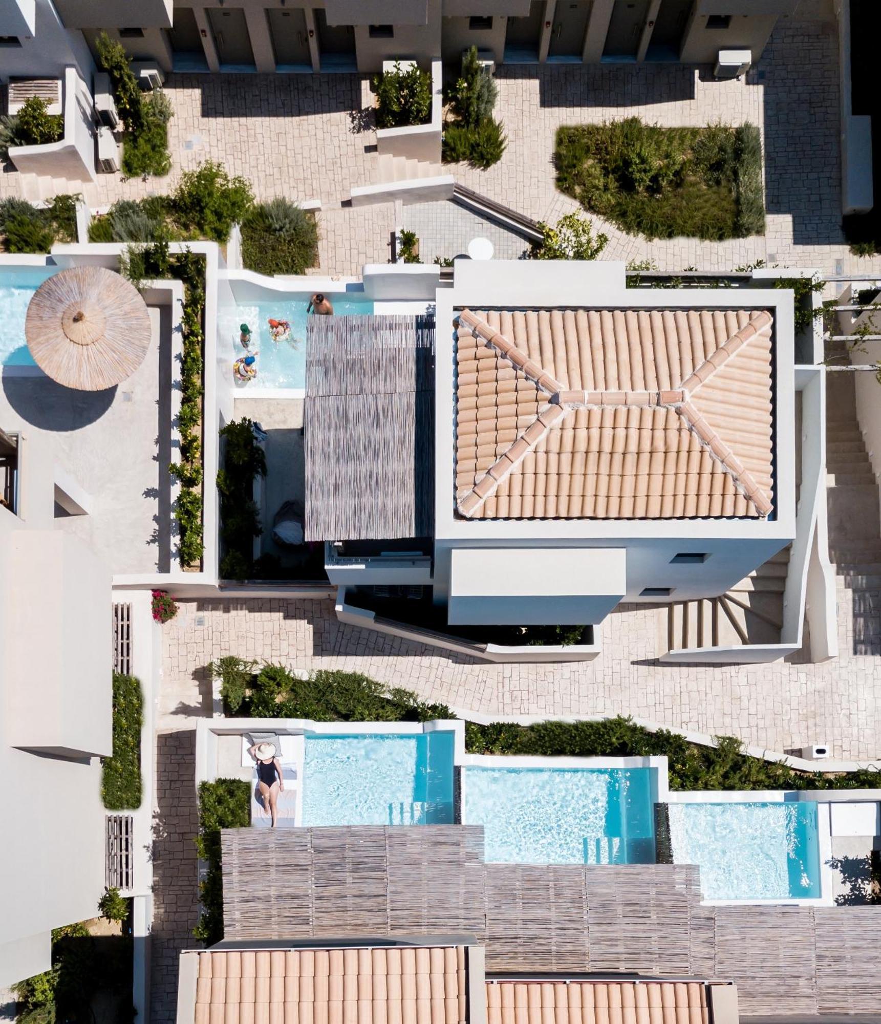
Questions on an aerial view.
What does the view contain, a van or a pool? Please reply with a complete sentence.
There is a pool in the scene.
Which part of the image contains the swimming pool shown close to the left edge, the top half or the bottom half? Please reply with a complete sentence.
You can find the swimming pool shown close to the left edge in the top half.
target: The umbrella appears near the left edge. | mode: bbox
[26,266,151,391]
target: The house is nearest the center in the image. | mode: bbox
[435,261,794,626]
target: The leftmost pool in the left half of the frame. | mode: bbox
[0,295,40,366]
